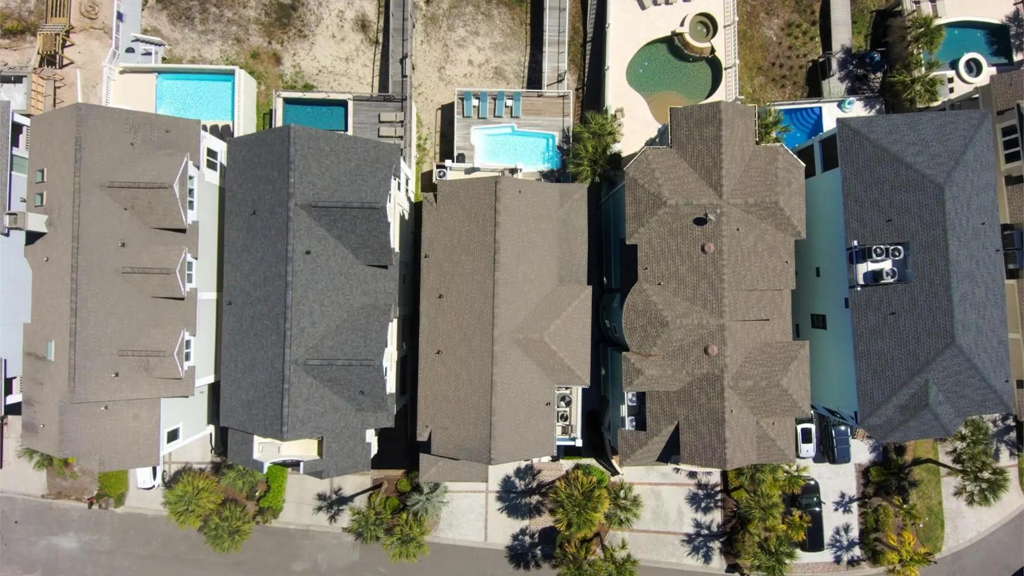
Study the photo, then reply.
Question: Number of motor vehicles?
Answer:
4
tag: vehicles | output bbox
[820,409,854,463]
[795,398,818,458]
[143,455,176,487]
[788,474,824,552]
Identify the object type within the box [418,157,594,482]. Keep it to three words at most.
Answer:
house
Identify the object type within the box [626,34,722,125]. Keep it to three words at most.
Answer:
swimming pool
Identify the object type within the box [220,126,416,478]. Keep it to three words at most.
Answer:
house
